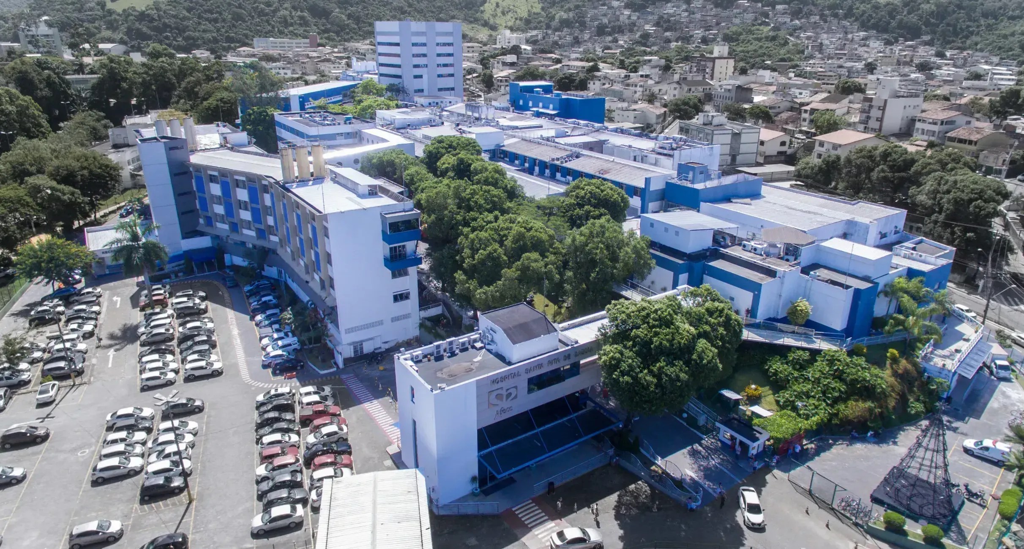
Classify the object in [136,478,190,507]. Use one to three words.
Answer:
car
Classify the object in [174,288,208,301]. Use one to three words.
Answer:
vehicle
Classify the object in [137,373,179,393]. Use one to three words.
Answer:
car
